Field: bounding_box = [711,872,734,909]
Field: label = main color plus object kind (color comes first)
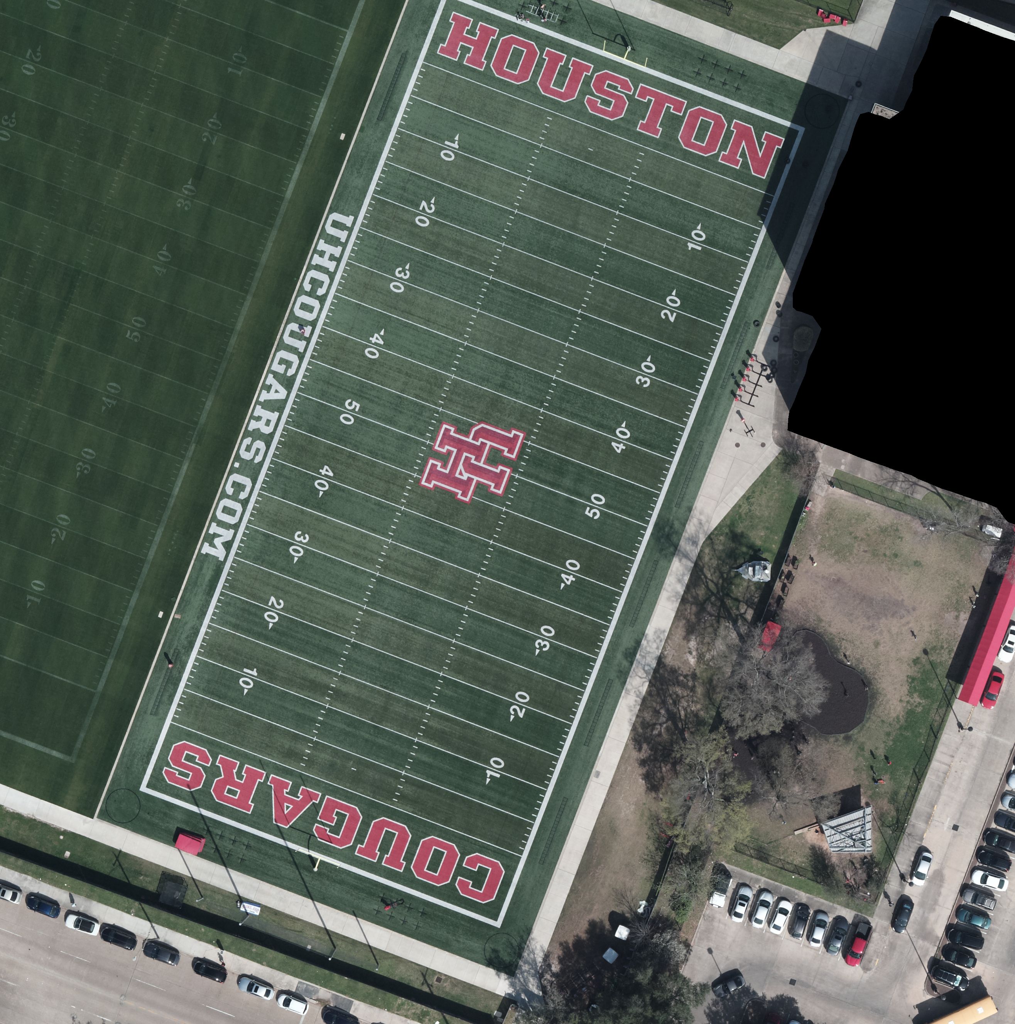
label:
white truck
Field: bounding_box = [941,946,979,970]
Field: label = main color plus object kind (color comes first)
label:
black car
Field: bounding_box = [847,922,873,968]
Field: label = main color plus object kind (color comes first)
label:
red truck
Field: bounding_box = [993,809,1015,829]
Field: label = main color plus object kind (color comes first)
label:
black car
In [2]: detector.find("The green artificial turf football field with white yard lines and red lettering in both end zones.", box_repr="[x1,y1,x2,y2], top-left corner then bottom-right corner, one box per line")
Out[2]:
[96,0,850,977]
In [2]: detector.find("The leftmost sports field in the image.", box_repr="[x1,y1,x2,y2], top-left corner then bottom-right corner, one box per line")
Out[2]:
[0,0,405,816]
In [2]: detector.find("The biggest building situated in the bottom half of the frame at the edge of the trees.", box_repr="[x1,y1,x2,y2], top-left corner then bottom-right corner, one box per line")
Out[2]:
[821,805,873,853]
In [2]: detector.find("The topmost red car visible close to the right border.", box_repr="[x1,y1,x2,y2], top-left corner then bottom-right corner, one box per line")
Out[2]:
[983,671,1005,710]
